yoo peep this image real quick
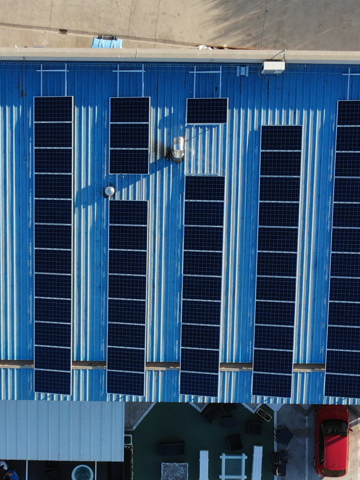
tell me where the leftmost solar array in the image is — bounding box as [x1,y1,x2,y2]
[33,62,73,393]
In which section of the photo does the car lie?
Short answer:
bottom right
